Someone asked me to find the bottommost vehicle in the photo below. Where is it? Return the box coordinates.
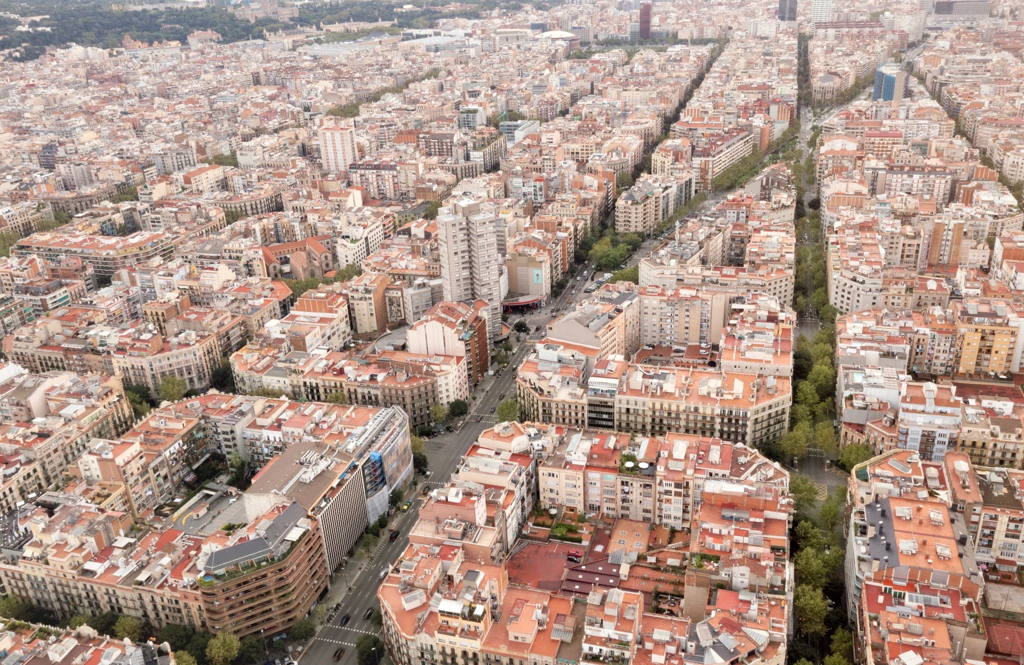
[331,647,344,660]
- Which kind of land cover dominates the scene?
buildings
